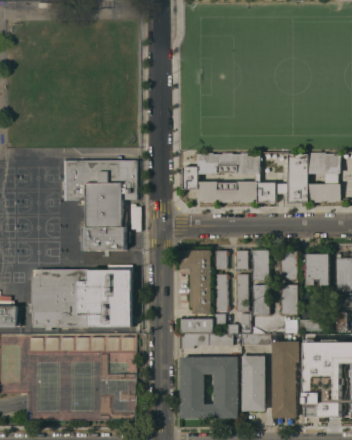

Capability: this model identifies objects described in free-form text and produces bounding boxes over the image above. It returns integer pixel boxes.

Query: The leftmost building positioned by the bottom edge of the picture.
[180,357,238,418]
